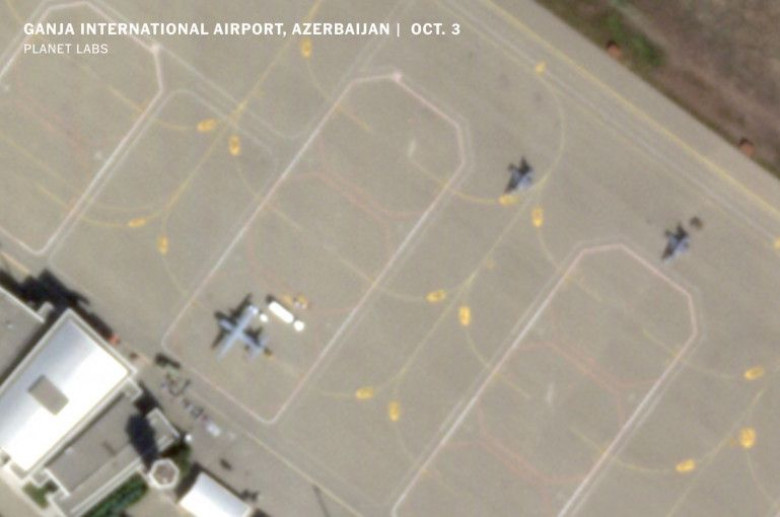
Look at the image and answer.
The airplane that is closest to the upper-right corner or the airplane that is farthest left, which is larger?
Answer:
the airplane that is farthest left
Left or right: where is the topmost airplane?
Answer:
right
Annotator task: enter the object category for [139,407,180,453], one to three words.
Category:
building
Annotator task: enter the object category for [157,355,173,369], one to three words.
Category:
vehicle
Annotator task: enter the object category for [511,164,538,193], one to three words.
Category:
airplane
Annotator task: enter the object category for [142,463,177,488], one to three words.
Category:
building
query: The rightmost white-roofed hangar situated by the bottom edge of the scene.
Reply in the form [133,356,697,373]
[177,472,250,517]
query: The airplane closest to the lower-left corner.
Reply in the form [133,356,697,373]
[218,306,269,360]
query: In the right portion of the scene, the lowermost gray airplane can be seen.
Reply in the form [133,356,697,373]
[667,229,693,257]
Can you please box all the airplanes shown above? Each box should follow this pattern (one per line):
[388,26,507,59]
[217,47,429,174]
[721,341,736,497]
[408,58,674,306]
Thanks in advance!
[511,164,538,193]
[667,229,693,257]
[218,306,269,360]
